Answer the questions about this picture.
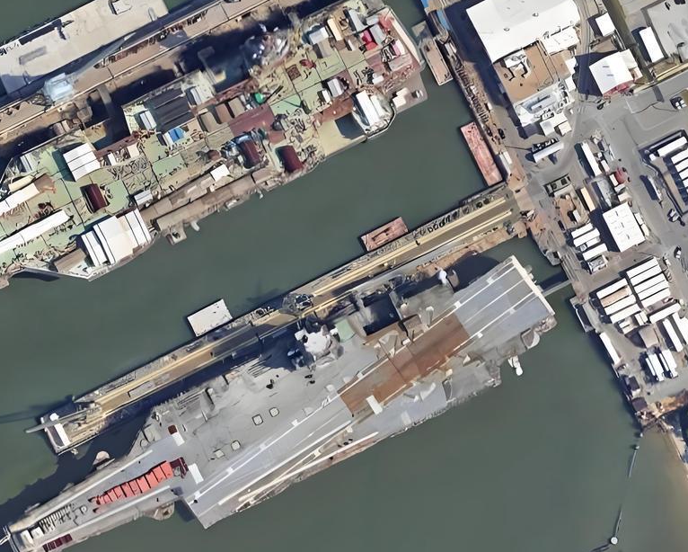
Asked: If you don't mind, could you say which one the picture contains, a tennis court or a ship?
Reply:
ship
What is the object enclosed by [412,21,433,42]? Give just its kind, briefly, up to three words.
ship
